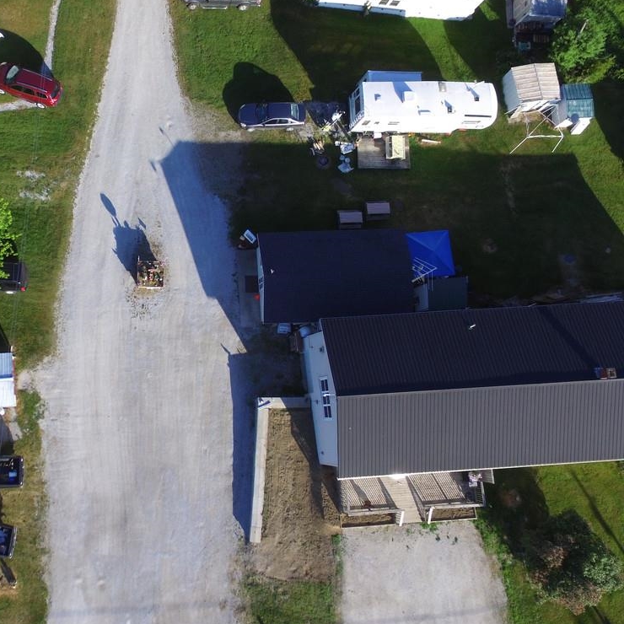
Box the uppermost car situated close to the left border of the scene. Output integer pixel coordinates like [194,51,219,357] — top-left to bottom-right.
[0,60,66,111]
